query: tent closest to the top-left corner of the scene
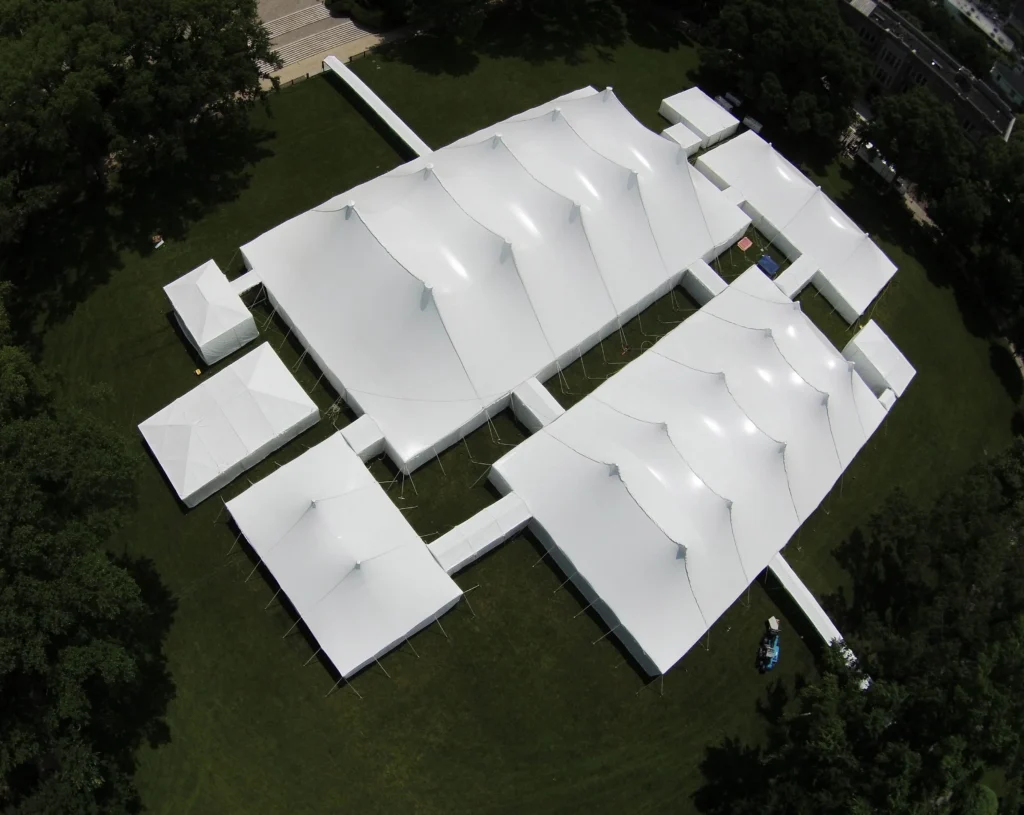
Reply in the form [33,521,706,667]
[165,260,257,361]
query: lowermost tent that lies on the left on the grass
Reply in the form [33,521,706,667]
[209,433,476,699]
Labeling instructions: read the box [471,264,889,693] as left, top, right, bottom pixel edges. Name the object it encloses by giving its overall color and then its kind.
white tent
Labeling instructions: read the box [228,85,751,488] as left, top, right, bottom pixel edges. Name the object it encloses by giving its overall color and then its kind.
white tent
